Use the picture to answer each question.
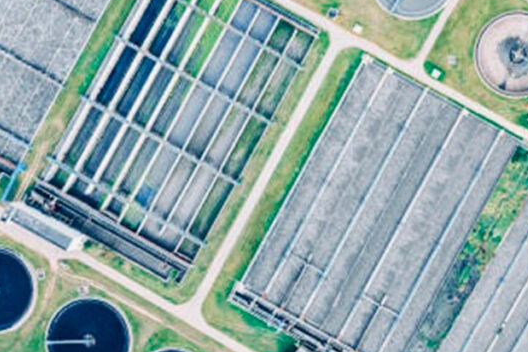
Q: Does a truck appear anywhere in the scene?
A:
No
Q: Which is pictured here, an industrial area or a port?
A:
industrial area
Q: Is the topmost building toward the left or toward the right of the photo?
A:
left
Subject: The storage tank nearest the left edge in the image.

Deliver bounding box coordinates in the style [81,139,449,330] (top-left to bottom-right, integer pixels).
[0,246,37,332]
